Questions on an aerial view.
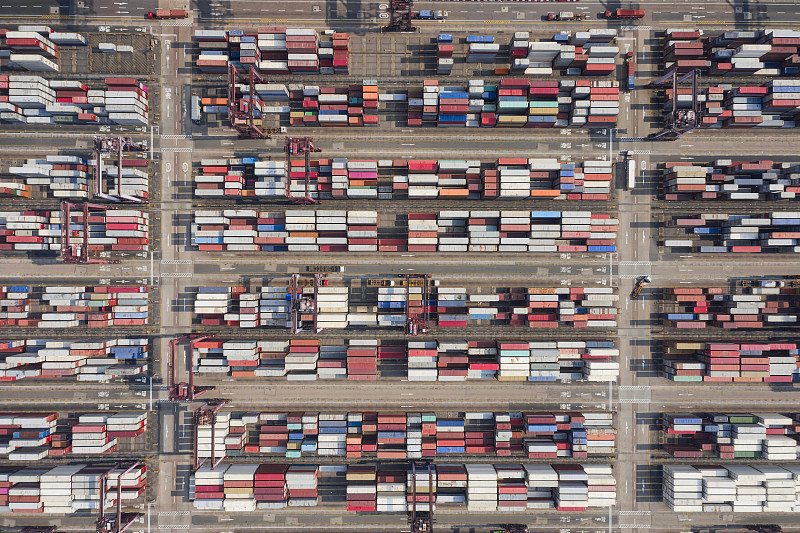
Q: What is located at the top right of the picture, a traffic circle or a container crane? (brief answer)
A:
container crane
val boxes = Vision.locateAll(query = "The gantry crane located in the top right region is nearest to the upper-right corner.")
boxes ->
[642,60,698,138]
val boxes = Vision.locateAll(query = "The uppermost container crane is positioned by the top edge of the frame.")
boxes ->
[386,0,416,28]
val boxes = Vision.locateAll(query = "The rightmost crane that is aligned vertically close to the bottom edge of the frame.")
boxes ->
[405,457,434,533]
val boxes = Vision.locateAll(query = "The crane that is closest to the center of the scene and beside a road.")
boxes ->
[401,272,430,336]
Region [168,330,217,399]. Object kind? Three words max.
container crane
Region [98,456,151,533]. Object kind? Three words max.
container crane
